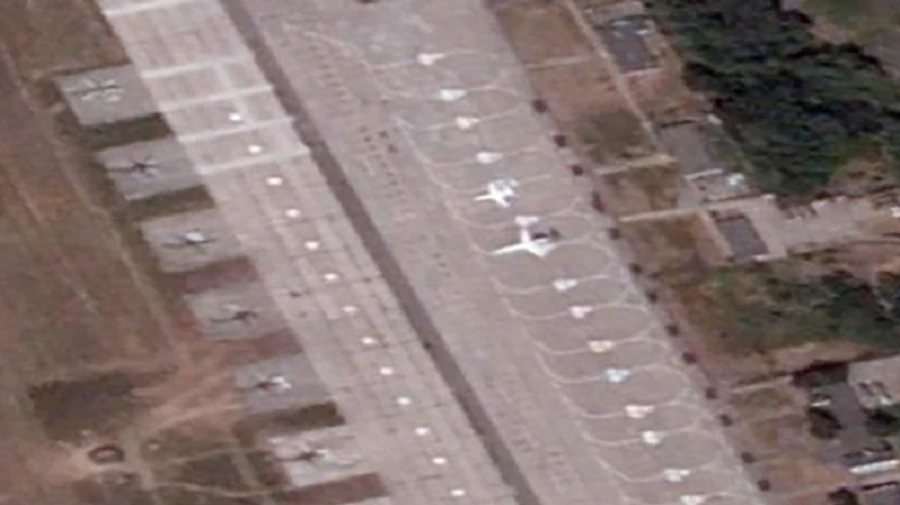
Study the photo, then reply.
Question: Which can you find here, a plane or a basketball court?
plane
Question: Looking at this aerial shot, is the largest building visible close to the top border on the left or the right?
right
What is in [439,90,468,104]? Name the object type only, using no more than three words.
airplane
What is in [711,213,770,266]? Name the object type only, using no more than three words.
building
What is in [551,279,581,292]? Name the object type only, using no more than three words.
airplane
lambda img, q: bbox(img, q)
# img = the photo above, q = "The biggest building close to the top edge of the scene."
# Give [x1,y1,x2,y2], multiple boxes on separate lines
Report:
[603,17,657,79]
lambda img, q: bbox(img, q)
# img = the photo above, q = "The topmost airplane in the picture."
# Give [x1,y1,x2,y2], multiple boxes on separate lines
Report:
[415,53,444,67]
